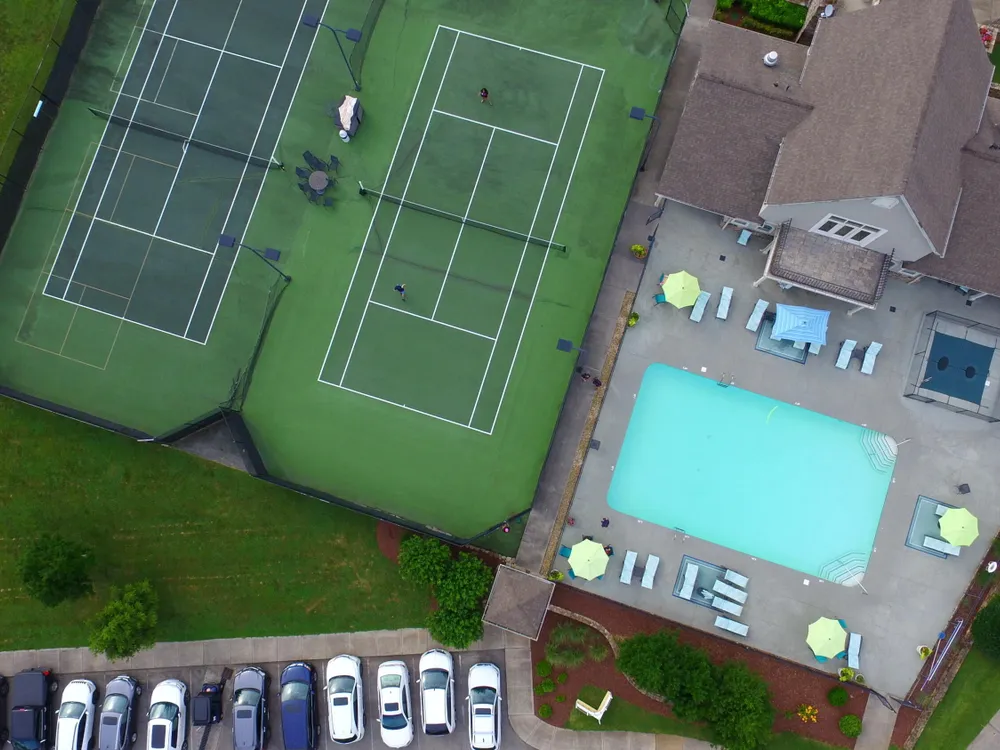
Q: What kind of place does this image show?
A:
sports ground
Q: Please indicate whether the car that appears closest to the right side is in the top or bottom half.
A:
bottom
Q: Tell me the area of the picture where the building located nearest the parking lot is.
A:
bottom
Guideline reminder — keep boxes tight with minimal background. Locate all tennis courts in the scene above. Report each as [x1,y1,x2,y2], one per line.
[240,0,689,537]
[0,0,384,434]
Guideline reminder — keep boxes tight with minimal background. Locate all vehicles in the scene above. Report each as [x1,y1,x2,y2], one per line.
[229,665,272,750]
[416,647,457,739]
[55,678,101,750]
[99,675,144,750]
[375,659,414,748]
[323,653,368,745]
[147,678,192,750]
[10,660,60,750]
[277,661,321,750]
[464,661,505,750]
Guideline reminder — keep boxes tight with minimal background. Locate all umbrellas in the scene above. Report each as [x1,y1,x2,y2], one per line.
[661,271,701,311]
[806,616,847,658]
[771,305,828,346]
[566,538,608,581]
[931,505,977,548]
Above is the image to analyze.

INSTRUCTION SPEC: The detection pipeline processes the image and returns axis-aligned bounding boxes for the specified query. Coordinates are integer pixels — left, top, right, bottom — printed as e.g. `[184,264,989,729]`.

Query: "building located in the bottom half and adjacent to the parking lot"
[481,562,555,641]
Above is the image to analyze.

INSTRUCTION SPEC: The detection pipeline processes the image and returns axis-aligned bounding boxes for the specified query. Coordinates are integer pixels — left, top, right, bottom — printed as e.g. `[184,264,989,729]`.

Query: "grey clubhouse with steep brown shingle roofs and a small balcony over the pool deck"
[653,0,1000,316]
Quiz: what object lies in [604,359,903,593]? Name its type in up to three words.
swimming pool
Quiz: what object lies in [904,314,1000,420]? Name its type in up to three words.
swimming pool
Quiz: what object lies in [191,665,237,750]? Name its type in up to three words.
trailer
